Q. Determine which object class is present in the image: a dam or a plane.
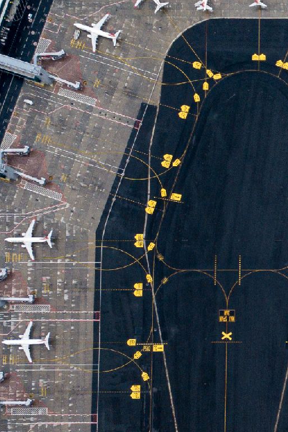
plane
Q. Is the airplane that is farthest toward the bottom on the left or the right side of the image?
left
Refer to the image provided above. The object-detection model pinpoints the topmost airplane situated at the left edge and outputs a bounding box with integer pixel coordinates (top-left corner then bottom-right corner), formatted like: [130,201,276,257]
[6,217,49,260]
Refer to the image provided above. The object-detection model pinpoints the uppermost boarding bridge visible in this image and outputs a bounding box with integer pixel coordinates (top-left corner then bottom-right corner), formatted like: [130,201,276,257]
[0,48,83,89]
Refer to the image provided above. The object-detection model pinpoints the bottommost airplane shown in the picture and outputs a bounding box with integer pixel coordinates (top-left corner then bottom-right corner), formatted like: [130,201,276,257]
[3,319,48,363]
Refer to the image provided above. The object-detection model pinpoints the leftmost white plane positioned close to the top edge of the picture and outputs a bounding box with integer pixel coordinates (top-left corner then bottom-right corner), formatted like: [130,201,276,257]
[75,9,118,50]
